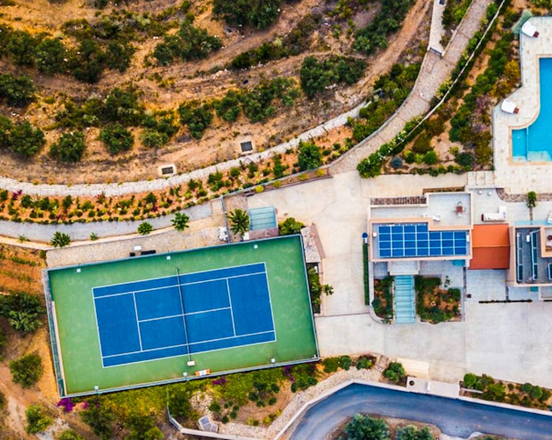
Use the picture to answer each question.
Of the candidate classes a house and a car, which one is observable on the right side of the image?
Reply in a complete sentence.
Looking on the right side of the image, you will find a house.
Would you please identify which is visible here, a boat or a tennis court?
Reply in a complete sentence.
Looking from above, you can make out a tennis court.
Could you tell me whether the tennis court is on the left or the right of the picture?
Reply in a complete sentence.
You can find the tennis court on the left side of the picture.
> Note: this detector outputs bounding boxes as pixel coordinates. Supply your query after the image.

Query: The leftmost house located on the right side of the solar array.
[467,223,511,270]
